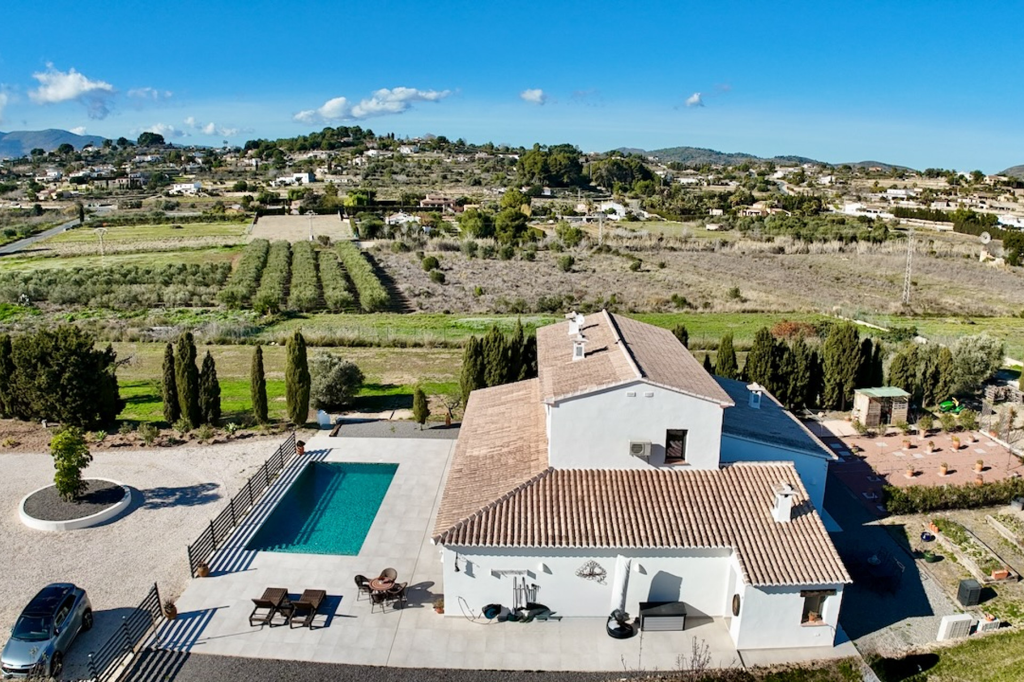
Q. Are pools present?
Yes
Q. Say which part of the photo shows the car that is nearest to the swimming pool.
bottom left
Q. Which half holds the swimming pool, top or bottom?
bottom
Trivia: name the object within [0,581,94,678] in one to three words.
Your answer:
car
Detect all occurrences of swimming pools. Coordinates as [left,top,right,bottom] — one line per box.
[248,461,396,553]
